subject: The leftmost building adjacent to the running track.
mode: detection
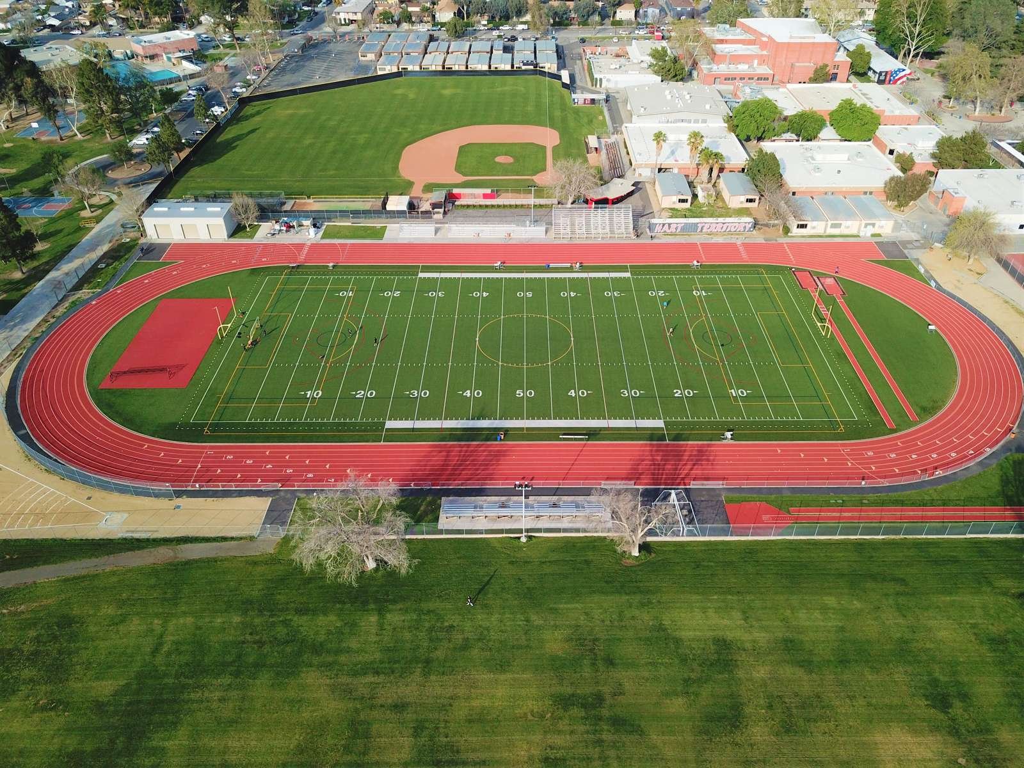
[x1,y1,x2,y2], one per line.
[142,203,239,239]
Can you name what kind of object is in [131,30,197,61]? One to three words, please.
building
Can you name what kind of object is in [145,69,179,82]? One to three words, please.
swimming pool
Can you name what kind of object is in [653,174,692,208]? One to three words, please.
building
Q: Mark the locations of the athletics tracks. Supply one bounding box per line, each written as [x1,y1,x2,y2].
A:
[20,259,1024,488]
